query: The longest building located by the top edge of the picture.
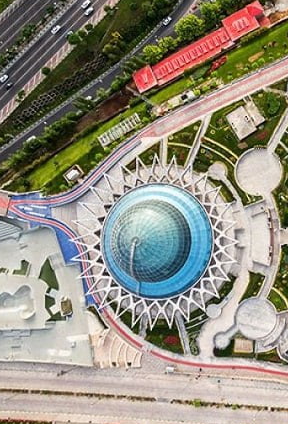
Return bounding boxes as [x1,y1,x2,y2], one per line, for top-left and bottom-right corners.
[137,2,273,95]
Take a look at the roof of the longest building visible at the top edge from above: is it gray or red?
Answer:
red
